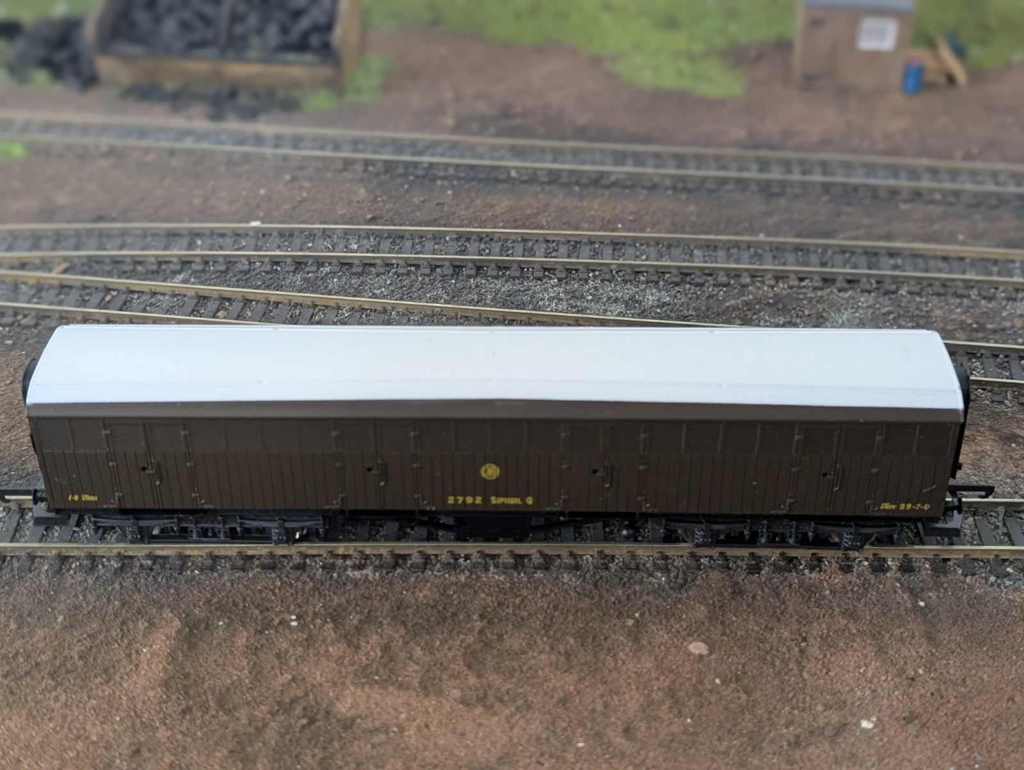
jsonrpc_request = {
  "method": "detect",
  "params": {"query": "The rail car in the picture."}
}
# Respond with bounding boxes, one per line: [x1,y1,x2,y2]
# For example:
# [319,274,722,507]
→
[6,324,994,552]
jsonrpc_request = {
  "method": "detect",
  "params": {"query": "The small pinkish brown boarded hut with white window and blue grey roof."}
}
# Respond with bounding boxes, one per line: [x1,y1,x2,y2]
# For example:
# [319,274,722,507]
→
[792,0,921,91]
